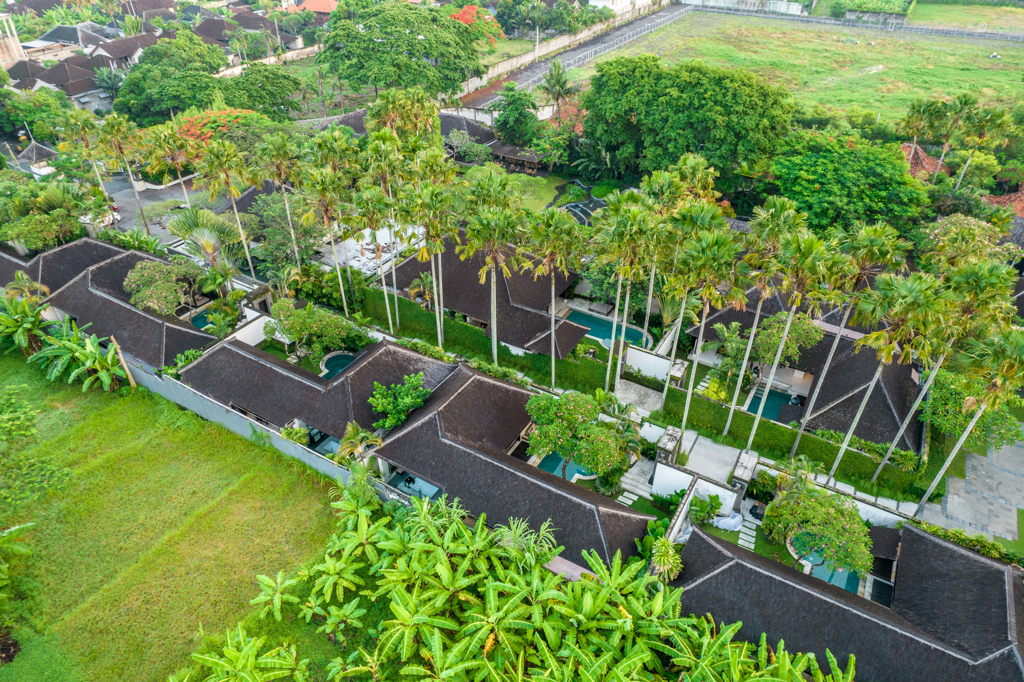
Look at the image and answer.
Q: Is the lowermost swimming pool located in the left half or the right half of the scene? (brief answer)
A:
right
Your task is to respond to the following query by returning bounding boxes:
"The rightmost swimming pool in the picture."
[783,547,873,598]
